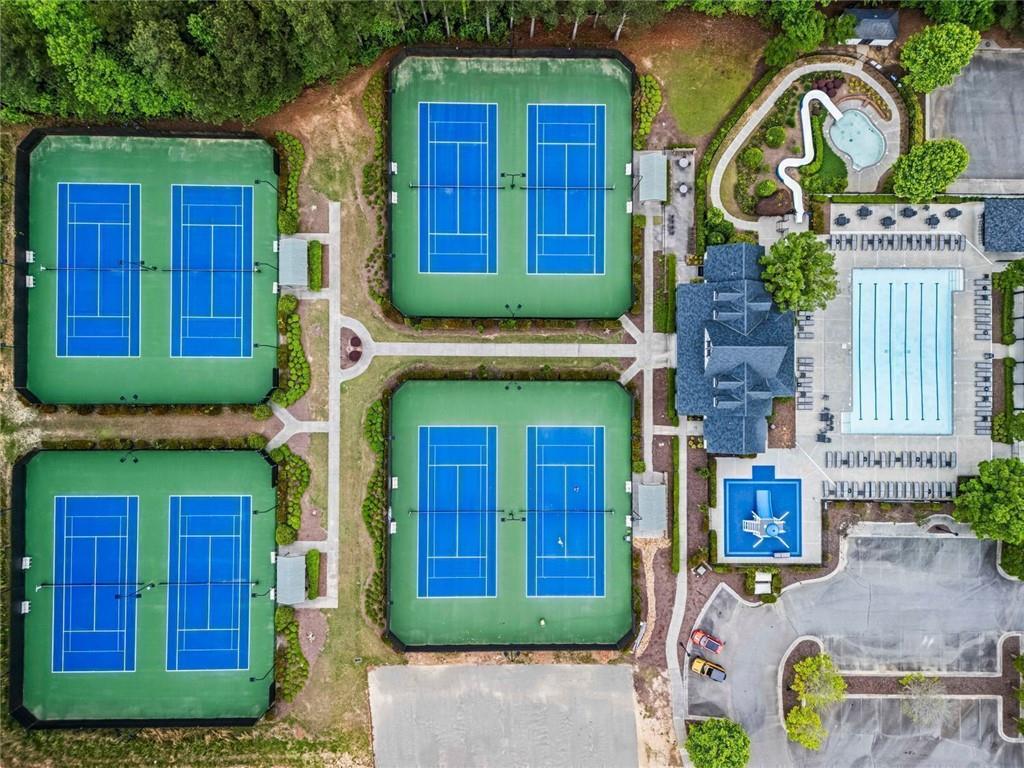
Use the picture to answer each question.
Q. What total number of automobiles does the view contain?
2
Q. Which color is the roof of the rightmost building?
blue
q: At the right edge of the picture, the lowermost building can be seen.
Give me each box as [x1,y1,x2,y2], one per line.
[973,197,1024,251]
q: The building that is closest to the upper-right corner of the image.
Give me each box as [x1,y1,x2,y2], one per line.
[832,0,899,47]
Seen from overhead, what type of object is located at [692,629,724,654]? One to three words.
car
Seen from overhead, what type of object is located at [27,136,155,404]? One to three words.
tennis court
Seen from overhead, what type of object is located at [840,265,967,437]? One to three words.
swimming pool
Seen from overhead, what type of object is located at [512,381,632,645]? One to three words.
tennis court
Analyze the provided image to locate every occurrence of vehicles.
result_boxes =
[692,629,724,654]
[692,657,727,685]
